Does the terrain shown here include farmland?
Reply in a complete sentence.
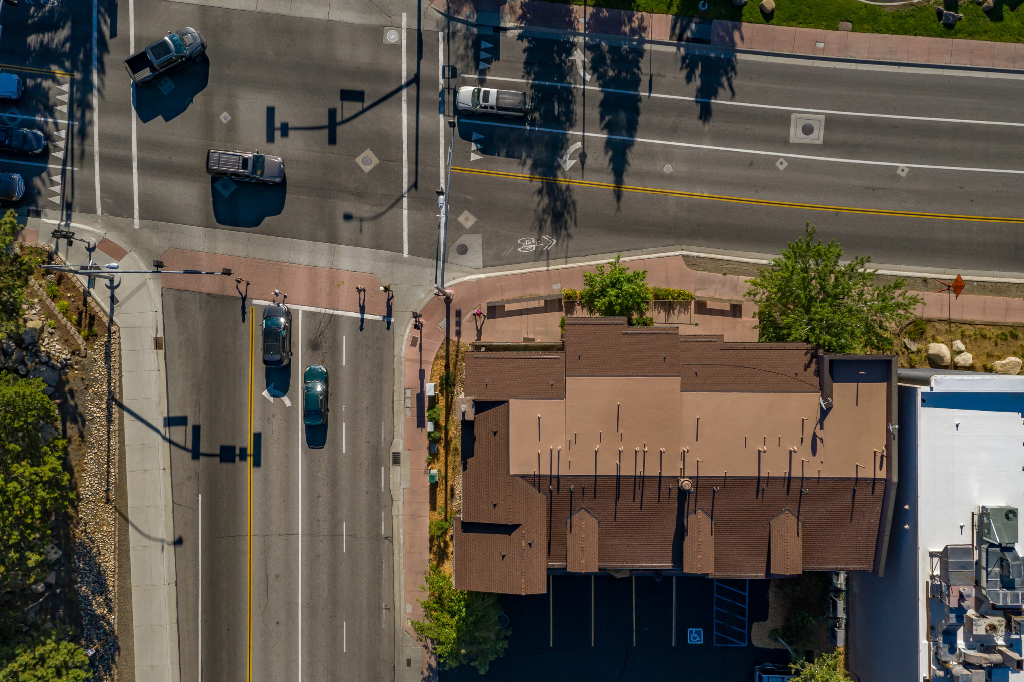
No, there's no farmland in this view.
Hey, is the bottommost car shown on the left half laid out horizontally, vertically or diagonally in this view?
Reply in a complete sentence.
Seen from above, the bottommost car shown on the left half lies vertically.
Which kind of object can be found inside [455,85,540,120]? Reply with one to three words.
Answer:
truck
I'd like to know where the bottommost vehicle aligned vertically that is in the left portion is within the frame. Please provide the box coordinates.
[300,364,329,425]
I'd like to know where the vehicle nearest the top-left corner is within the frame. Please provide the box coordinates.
[0,72,25,102]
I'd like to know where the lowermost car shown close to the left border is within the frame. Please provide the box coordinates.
[0,171,28,200]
